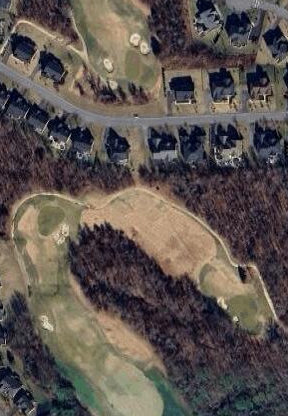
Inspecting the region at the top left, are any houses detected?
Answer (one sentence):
Yes, you'll find a house at the top left.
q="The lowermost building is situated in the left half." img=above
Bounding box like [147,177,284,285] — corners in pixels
[5,387,37,411]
